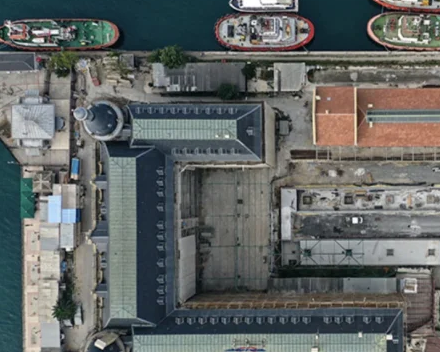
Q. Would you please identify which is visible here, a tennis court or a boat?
boat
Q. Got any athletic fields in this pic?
No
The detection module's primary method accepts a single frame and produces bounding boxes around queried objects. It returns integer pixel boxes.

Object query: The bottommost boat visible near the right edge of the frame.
[367,12,440,51]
